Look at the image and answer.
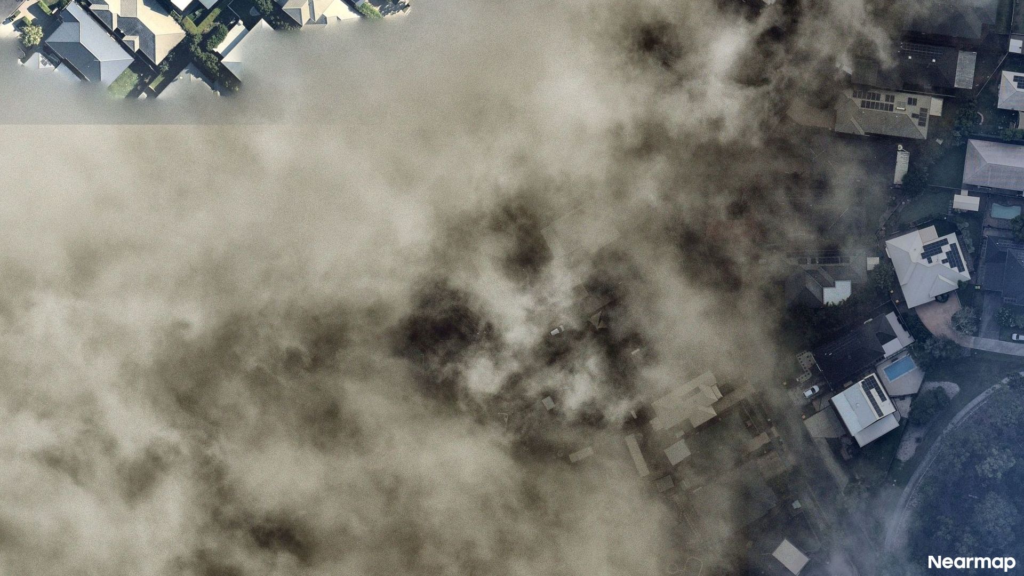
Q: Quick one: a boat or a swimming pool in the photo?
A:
swimming pool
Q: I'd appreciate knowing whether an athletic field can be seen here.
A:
No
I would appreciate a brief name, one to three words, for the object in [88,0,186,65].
house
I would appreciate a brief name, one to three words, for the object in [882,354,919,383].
swimming pool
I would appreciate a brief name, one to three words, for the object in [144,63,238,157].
house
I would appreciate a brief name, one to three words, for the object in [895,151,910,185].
shed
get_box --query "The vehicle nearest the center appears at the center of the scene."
[548,324,565,336]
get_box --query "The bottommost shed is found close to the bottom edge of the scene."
[772,539,808,576]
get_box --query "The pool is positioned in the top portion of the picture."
[990,202,1022,220]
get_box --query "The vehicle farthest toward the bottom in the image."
[802,385,819,398]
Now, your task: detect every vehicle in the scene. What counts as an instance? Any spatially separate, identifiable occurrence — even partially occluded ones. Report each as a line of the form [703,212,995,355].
[1011,333,1024,341]
[548,324,565,336]
[802,385,819,398]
